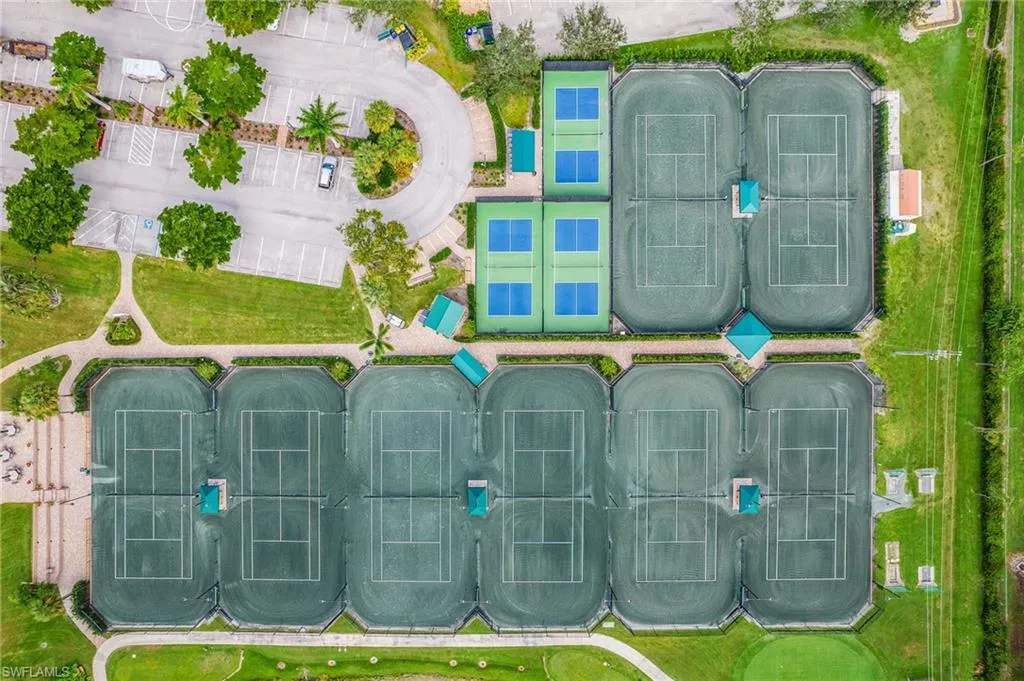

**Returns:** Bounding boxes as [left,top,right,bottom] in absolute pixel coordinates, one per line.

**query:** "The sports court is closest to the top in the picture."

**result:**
[543,69,611,196]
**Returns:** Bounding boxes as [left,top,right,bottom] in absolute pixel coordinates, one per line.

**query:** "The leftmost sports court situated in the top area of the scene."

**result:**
[476,201,543,333]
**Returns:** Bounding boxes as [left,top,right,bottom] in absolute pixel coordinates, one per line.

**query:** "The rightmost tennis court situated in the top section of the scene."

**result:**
[743,68,875,333]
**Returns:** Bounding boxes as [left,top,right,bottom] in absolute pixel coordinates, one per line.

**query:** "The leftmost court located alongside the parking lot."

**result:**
[90,366,217,629]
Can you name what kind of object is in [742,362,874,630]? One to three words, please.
tennis court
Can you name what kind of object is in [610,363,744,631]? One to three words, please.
tennis court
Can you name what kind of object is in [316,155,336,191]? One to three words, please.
car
